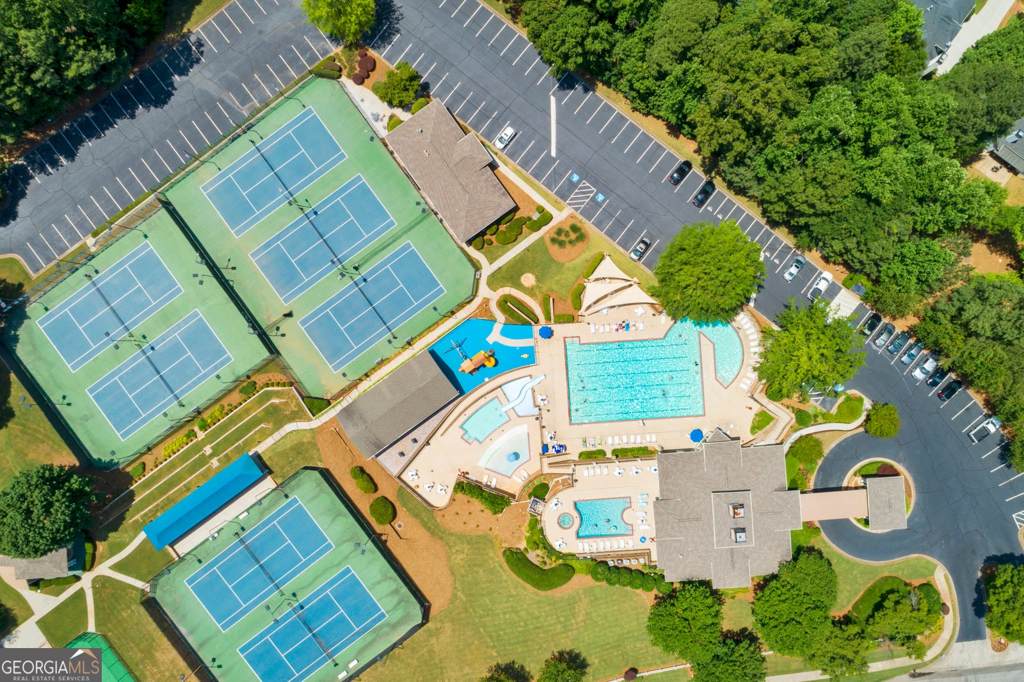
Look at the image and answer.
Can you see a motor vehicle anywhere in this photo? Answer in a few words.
Yes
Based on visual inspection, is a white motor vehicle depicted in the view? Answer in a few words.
Yes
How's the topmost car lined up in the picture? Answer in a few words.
diagonally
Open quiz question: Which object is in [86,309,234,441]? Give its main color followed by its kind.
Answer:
blue tennis court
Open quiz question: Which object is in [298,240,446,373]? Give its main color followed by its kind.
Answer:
blue tennis court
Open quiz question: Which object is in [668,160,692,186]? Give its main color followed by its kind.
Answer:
black car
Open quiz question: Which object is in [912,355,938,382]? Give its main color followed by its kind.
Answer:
white car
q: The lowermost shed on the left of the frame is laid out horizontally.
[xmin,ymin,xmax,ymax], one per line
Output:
[0,541,75,576]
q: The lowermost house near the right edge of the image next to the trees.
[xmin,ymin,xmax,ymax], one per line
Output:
[982,121,1024,186]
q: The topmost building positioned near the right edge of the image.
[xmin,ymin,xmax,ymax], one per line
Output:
[916,0,976,70]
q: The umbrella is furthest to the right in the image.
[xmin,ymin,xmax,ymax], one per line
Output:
[689,428,704,443]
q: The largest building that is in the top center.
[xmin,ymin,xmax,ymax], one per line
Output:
[384,98,516,243]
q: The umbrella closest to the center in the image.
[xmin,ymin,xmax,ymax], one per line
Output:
[538,325,552,339]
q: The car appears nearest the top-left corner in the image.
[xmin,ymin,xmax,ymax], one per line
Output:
[494,124,518,151]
